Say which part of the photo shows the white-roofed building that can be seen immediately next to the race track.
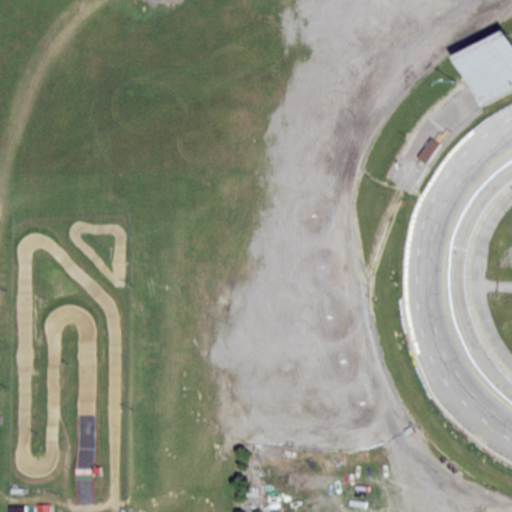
top right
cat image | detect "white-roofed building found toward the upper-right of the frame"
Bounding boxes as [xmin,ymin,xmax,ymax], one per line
[450,30,512,110]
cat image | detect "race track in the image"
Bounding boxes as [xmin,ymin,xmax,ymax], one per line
[408,104,512,460]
